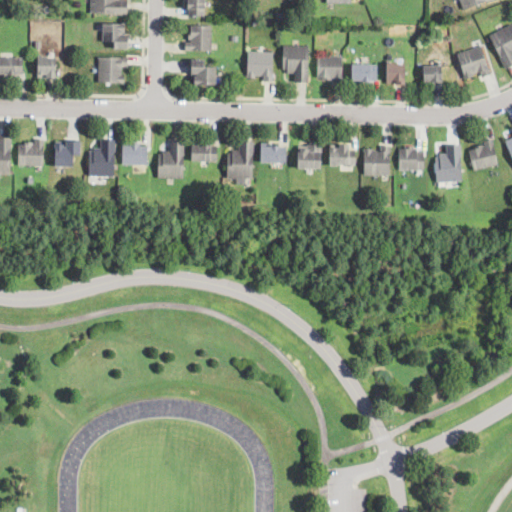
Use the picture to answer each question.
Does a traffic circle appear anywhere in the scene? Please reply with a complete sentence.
No, the picture doesn't show any traffic circle.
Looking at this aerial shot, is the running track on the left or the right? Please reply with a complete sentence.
You can find the running track on the left side of the picture.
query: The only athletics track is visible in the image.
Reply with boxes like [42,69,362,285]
[58,398,276,512]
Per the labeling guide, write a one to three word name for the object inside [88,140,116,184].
house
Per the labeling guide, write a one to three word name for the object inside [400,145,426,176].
house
